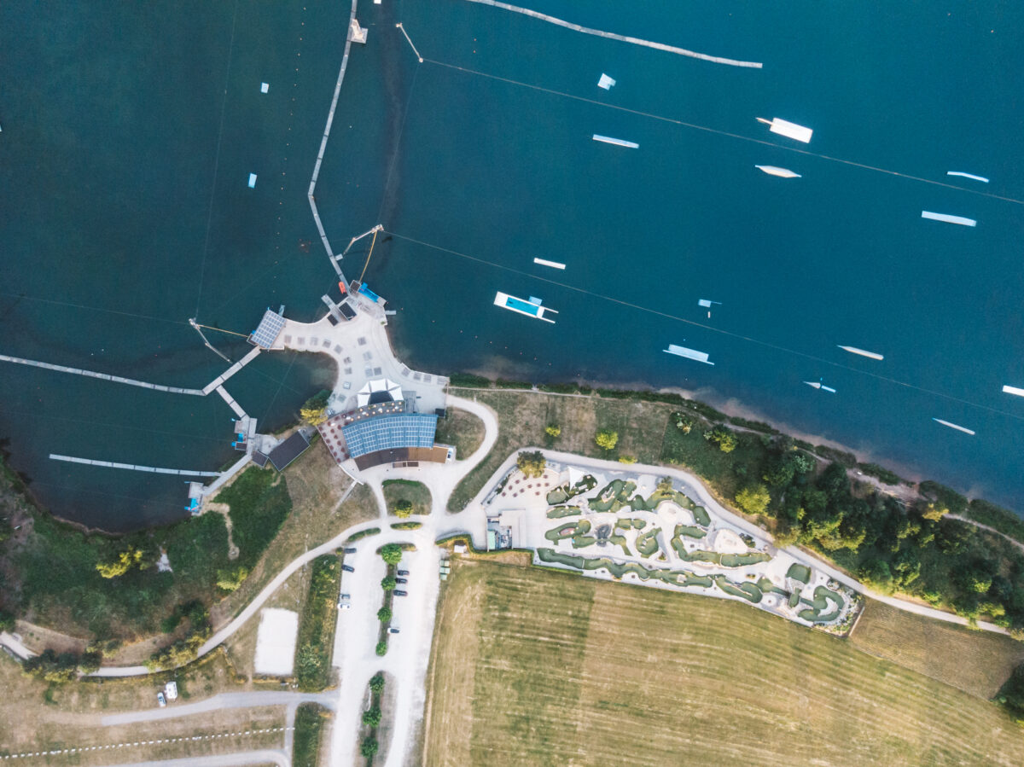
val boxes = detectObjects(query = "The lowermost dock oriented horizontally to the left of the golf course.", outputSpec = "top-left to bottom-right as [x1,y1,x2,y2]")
[50,454,220,477]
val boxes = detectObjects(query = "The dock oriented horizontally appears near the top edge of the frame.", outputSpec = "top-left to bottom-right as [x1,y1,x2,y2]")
[457,0,761,68]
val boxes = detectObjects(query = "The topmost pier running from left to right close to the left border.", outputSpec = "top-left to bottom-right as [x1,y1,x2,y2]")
[0,354,205,396]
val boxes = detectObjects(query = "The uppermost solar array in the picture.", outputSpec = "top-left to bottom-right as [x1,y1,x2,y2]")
[251,311,285,348]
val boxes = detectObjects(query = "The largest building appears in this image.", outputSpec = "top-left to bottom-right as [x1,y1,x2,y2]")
[342,413,449,471]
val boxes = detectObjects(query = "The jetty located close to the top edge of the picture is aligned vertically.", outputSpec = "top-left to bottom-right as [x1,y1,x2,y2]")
[309,0,357,295]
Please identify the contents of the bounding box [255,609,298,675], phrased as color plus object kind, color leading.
white sports court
